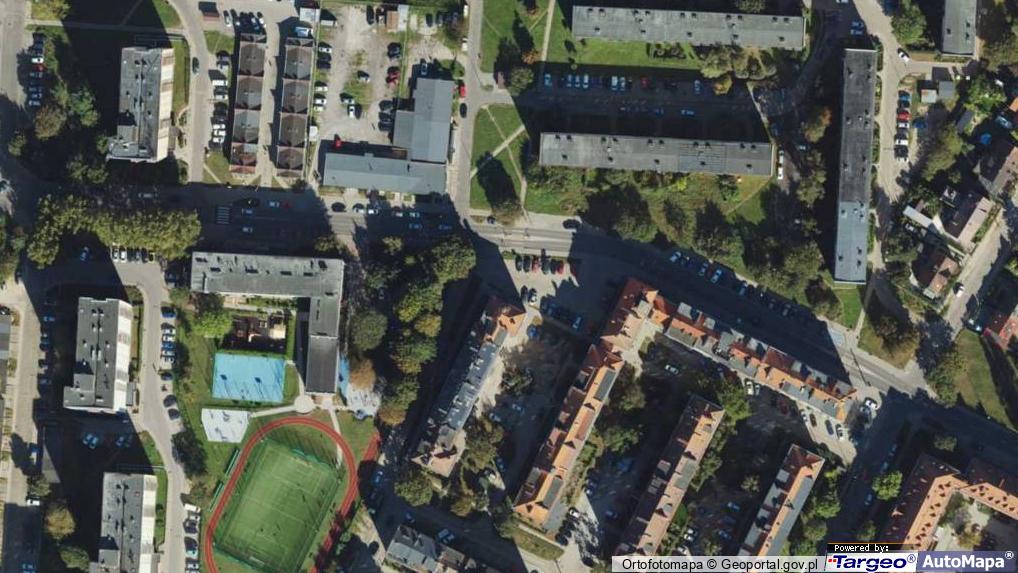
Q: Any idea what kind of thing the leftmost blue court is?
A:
basketball court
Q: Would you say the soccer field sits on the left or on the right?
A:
left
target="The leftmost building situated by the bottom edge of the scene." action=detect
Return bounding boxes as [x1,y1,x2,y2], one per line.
[88,473,161,573]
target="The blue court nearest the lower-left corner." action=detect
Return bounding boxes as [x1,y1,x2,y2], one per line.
[210,350,288,404]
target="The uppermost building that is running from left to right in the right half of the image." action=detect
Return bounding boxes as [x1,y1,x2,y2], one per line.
[573,6,805,54]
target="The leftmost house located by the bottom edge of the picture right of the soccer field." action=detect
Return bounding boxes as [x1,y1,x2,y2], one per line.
[387,527,449,573]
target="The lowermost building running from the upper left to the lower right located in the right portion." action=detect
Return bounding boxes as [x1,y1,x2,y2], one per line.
[944,455,1018,520]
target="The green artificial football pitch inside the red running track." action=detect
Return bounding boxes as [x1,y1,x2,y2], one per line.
[206,433,345,573]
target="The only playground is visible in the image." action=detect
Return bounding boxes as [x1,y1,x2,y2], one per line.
[226,314,285,351]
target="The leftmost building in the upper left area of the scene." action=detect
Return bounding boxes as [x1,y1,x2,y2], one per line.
[107,48,180,167]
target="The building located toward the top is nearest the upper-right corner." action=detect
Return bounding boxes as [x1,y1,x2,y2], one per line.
[942,0,977,58]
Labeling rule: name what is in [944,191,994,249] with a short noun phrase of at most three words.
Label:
house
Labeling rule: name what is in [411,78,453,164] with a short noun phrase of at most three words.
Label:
building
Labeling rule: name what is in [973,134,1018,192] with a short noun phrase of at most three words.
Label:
house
